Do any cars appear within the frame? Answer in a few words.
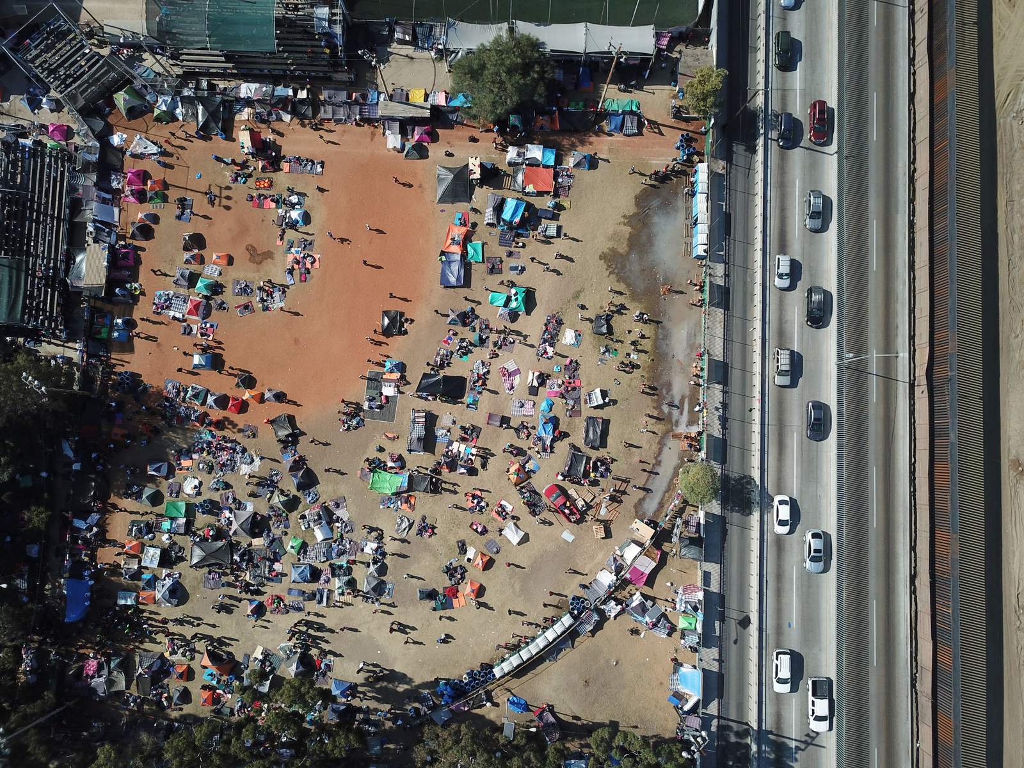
Yes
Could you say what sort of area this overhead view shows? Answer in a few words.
sports ground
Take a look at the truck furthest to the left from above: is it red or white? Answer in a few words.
red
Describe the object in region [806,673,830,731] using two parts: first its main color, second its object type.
white truck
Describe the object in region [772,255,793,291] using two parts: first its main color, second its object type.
white car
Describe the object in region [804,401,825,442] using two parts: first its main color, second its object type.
black car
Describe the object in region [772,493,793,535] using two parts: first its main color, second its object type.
white car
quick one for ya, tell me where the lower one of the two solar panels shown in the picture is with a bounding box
[501,721,516,744]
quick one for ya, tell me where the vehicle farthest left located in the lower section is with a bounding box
[544,483,584,526]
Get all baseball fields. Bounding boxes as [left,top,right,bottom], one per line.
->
[78,107,707,741]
